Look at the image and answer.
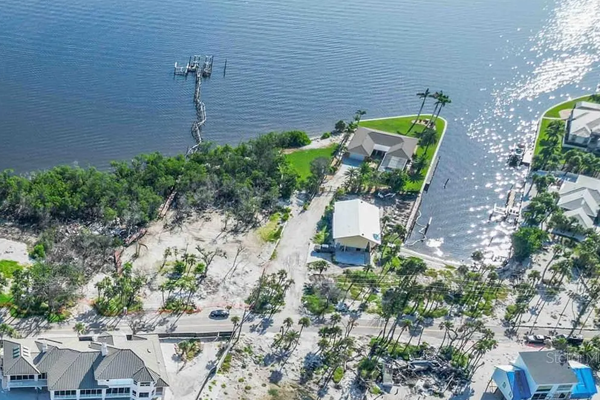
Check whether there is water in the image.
Yes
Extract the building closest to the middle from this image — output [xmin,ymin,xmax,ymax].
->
[327,199,381,257]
